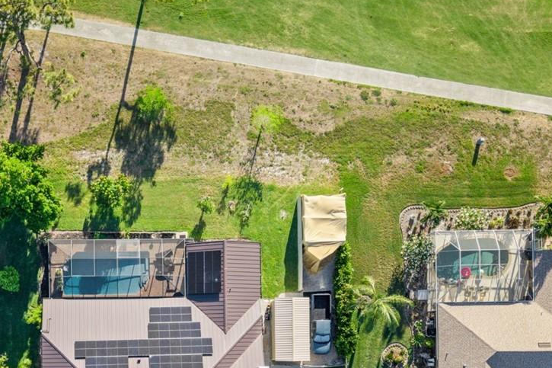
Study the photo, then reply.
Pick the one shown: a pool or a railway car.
pool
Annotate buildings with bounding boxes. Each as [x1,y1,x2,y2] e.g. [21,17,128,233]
[40,239,268,368]
[433,247,552,368]
[272,298,309,362]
